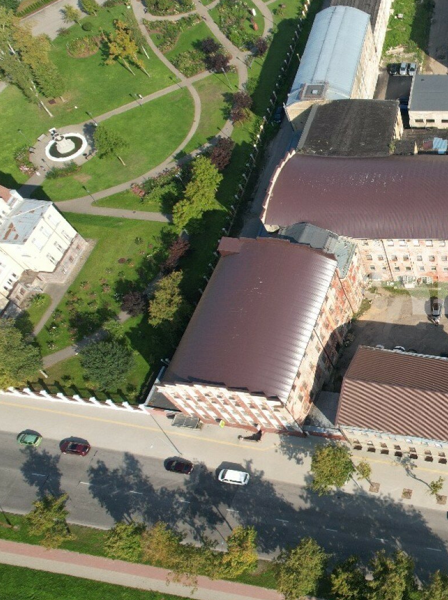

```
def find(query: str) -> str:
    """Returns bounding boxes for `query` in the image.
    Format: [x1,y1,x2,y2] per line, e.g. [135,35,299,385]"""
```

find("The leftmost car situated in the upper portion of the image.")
[272,105,285,123]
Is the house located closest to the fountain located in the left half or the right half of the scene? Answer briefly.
left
